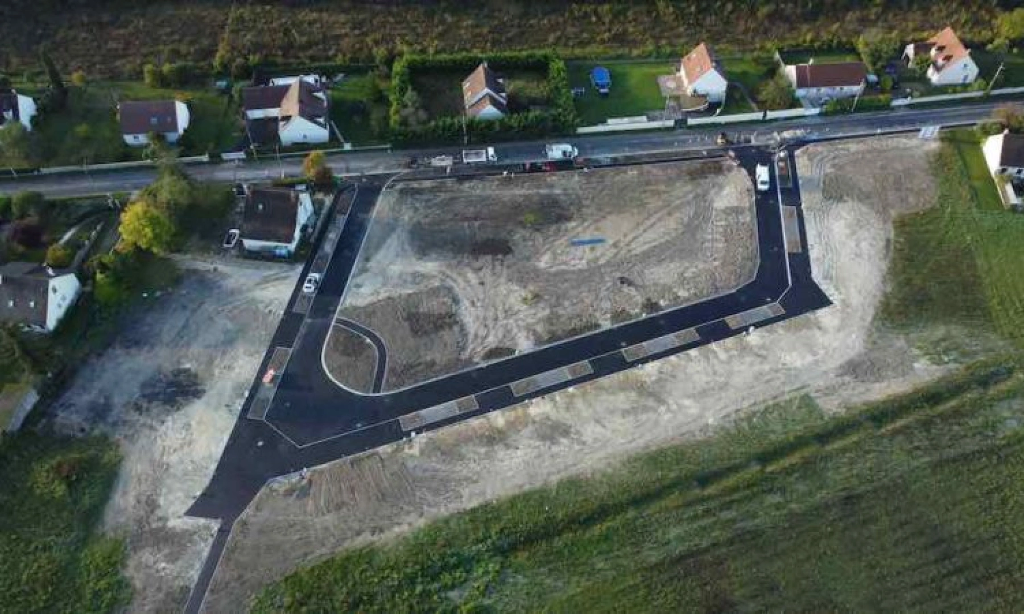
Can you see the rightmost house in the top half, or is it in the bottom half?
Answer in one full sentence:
The rightmost house sits in the top half of the picture.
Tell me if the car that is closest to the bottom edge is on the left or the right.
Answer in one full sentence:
The car that is closest to the bottom edge sits on the left side.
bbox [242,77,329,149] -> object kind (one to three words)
house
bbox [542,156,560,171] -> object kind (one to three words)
work vehicle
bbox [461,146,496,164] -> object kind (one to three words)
vehicle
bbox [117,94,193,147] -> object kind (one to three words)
house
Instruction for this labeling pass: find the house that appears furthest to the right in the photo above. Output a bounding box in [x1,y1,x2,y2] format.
[977,127,1024,204]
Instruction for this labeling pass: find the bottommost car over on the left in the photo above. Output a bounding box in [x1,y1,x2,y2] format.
[301,269,321,291]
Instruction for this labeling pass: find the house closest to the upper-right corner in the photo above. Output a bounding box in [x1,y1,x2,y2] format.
[902,37,984,89]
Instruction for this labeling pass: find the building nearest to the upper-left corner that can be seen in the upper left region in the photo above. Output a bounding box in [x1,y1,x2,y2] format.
[0,87,42,138]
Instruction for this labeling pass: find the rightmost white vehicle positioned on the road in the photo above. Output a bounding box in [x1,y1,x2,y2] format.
[757,165,772,189]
